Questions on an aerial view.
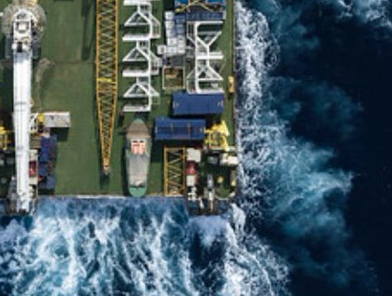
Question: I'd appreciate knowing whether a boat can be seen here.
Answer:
Yes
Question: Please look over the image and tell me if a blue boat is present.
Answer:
No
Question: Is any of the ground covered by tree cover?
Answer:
No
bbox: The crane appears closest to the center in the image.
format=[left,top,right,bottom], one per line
[203,118,226,149]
